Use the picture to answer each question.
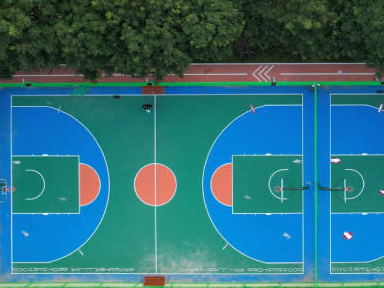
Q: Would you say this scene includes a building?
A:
No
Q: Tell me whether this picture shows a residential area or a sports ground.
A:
sports ground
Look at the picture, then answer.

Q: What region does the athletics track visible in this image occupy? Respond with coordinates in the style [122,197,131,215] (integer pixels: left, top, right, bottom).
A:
[0,61,383,81]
